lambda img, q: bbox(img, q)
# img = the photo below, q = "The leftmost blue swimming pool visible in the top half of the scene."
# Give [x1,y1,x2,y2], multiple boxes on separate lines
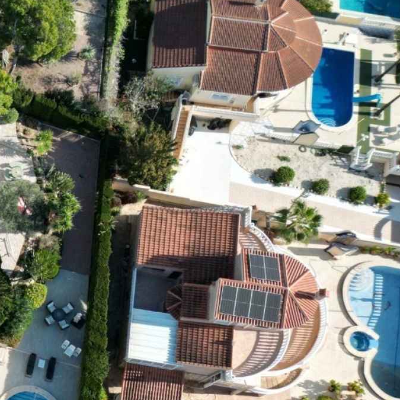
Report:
[307,44,359,131]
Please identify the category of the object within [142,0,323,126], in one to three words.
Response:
house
